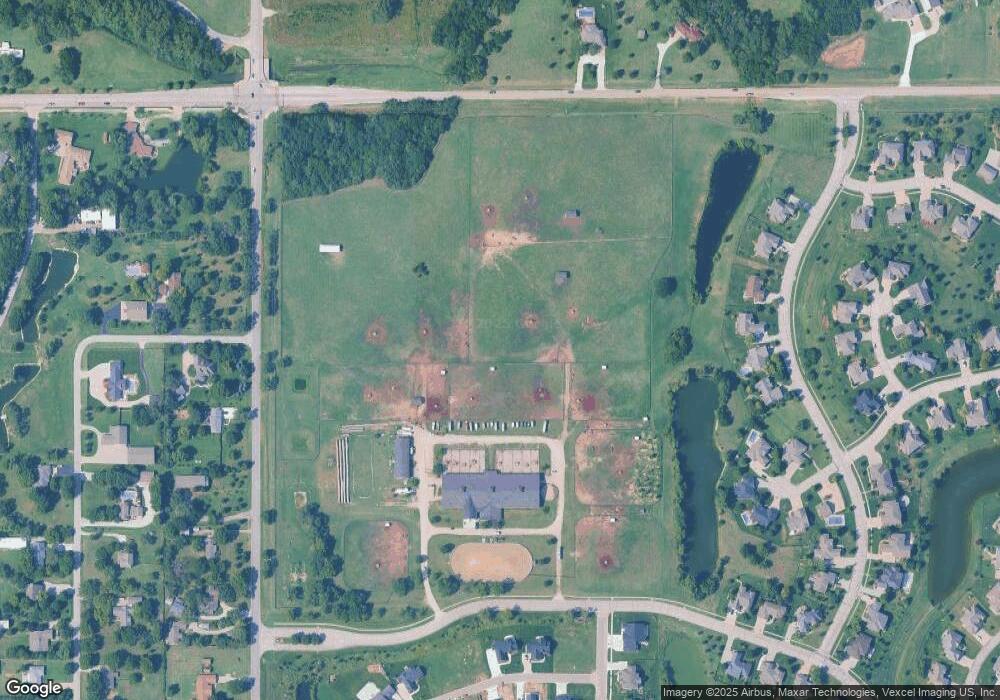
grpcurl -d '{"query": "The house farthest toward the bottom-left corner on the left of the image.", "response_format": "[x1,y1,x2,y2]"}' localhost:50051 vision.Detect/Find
[21,666,44,685]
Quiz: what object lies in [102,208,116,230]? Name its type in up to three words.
shed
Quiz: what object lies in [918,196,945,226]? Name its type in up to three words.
house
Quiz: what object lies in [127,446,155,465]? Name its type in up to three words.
barn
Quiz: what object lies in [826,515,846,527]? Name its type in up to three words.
swimming pool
